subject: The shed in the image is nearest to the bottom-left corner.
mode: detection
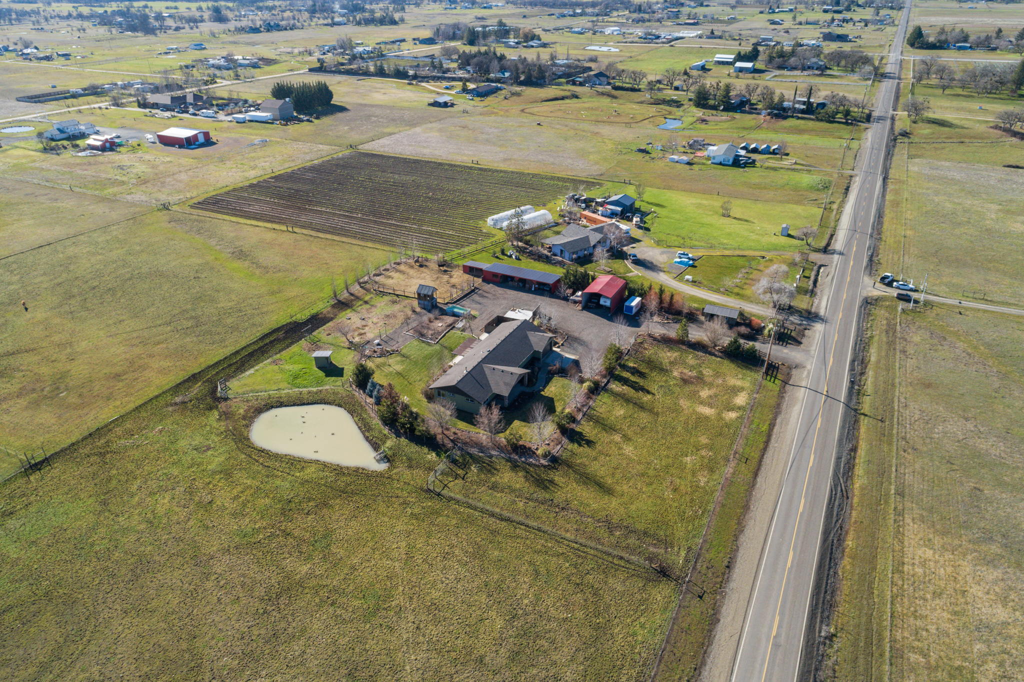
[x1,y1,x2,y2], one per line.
[310,347,334,370]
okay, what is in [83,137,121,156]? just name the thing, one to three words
building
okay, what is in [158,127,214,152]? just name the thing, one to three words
barn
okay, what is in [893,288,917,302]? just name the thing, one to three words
car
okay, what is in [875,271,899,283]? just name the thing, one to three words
vehicle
